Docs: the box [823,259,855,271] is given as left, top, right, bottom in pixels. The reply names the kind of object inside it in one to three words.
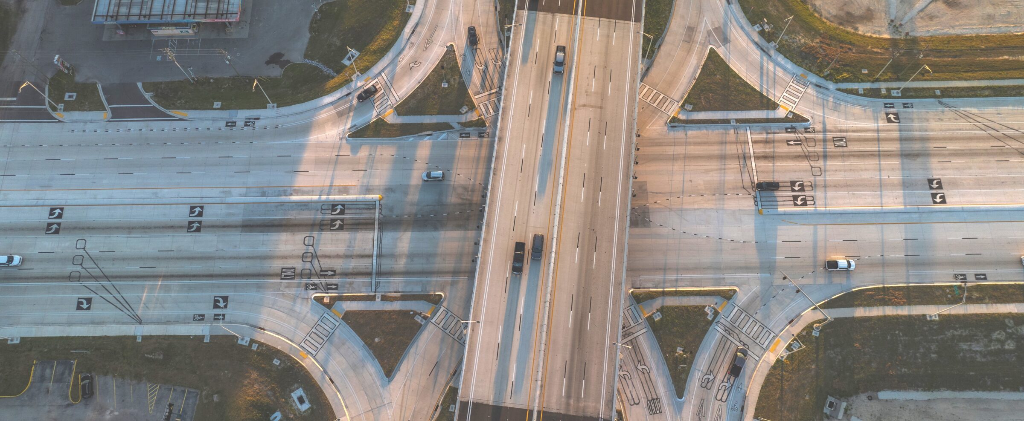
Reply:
vehicle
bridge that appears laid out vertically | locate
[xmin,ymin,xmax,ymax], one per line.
[456,0,645,421]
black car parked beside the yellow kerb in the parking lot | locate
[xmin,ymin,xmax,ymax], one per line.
[80,373,96,401]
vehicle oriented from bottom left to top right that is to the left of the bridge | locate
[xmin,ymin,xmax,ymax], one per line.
[357,85,379,102]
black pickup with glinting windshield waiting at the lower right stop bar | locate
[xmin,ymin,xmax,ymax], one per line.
[726,347,748,380]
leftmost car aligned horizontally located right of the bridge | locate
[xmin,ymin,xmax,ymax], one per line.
[754,180,780,192]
